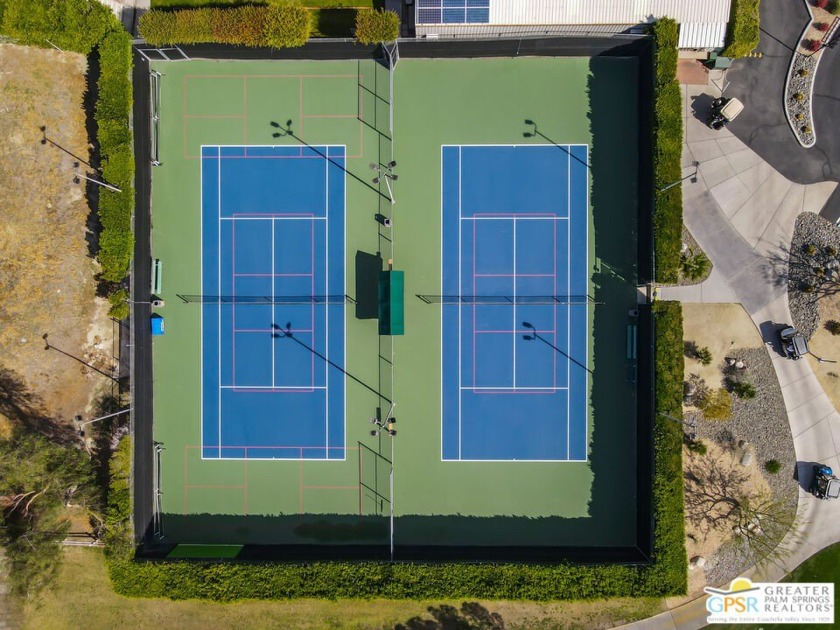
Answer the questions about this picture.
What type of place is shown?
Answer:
sports ground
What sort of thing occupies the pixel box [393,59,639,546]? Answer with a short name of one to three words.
tennis court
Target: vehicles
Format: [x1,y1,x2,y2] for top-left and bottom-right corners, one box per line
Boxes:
[773,328,806,362]
[706,98,743,134]
[808,465,840,500]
